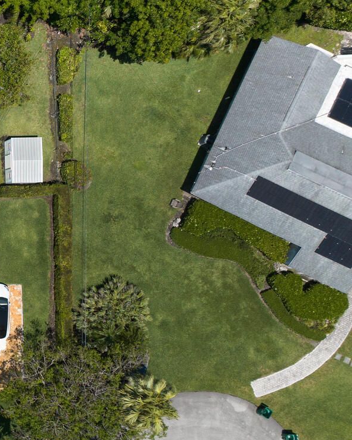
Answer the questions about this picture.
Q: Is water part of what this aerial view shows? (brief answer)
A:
No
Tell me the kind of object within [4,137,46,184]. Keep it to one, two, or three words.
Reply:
shed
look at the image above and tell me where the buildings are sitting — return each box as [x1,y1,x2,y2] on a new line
[4,137,46,184]
[187,36,352,277]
